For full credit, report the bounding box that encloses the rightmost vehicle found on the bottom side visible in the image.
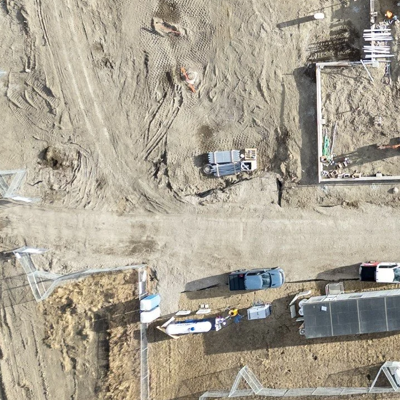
[361,261,400,286]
